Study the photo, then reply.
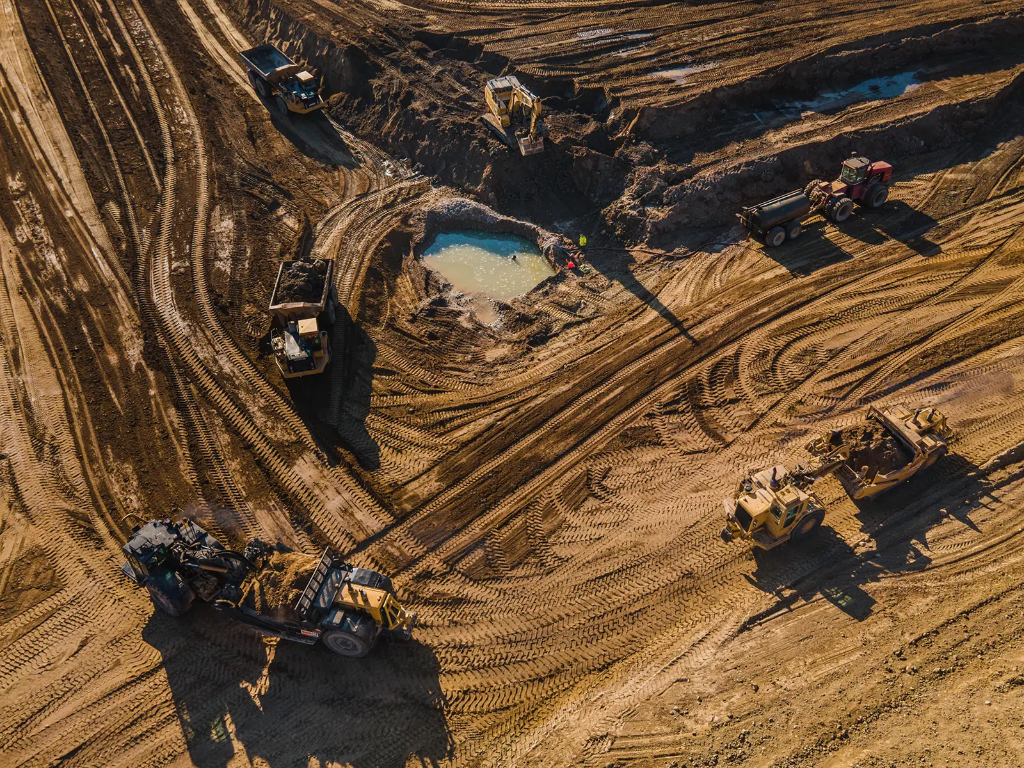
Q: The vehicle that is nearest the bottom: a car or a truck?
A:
truck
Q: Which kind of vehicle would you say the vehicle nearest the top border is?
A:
truck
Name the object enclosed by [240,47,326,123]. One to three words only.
truck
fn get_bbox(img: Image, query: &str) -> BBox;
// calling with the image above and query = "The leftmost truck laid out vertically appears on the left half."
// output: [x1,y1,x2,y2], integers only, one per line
[268,244,335,378]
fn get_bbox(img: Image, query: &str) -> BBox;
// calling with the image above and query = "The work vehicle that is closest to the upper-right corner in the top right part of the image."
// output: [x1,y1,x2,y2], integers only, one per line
[790,152,888,222]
